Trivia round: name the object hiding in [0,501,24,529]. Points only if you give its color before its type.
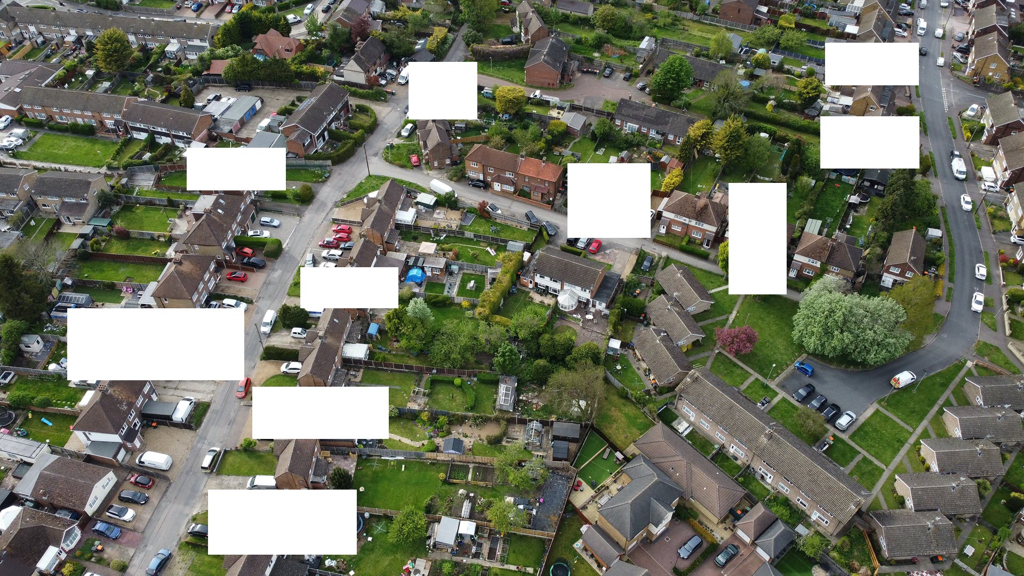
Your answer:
white gazebo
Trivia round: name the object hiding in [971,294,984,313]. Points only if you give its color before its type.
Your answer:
white vehicle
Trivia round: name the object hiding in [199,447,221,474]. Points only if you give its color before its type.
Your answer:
white car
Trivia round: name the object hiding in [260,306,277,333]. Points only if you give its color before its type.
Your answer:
white vehicle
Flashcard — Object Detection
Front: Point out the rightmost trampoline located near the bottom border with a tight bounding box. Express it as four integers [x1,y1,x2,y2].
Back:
[550,556,571,576]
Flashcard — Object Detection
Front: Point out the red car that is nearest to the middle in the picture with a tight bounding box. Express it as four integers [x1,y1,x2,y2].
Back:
[588,239,603,255]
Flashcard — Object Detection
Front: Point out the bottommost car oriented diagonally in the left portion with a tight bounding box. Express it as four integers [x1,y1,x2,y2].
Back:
[143,547,174,576]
